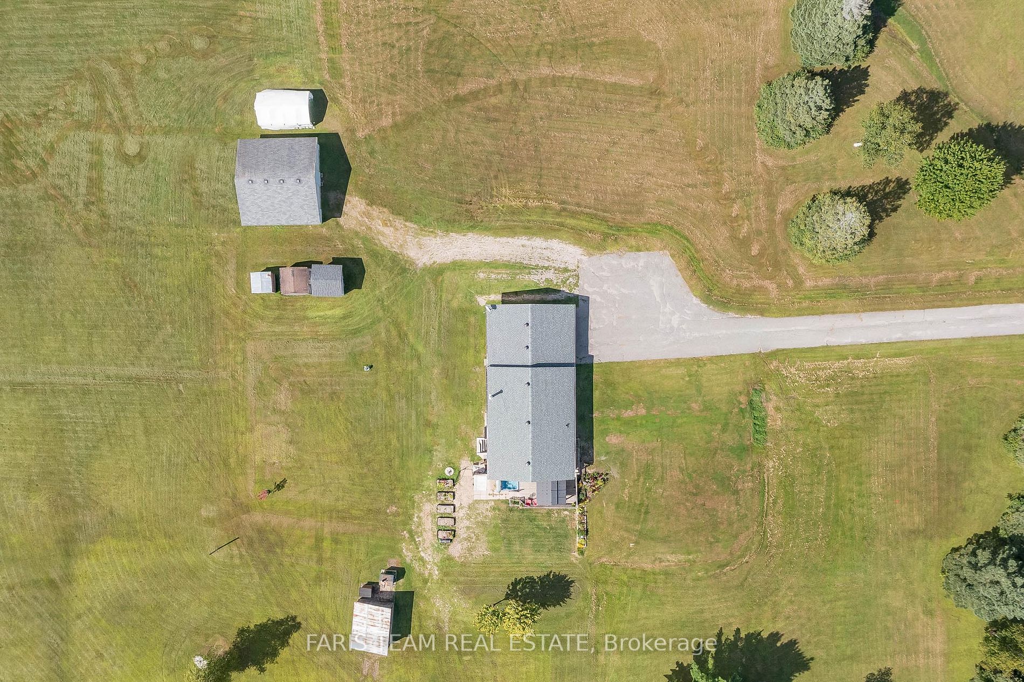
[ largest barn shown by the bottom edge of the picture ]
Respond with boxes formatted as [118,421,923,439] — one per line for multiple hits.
[351,599,393,656]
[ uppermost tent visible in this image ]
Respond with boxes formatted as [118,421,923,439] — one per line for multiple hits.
[255,89,314,130]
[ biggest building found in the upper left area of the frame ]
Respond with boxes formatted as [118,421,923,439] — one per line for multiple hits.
[235,137,323,226]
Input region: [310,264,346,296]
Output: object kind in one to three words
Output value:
shed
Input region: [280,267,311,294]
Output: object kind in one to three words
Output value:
shed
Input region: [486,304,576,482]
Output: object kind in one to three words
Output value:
house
